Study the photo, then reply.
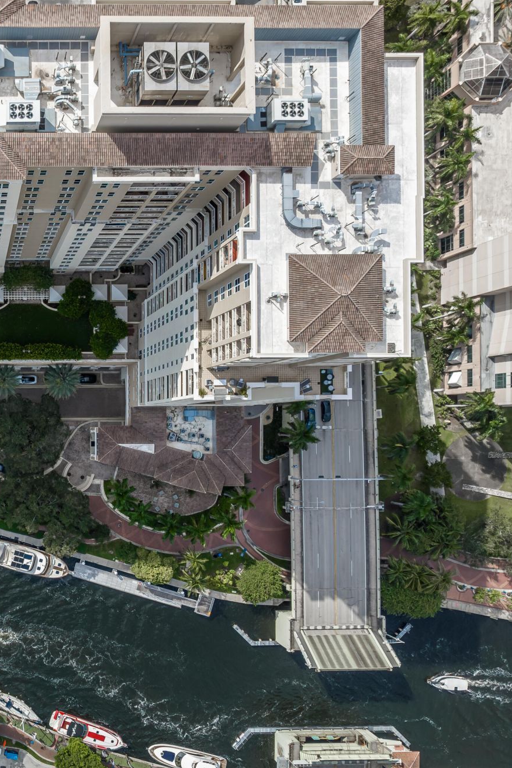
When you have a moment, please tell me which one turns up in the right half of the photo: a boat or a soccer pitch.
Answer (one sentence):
You can see a boat in the right half of the photo.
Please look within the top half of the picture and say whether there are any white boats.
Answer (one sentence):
No, no white boat appears within the top half of the picture.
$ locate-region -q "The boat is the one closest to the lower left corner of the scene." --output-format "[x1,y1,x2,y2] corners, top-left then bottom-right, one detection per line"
[0,692,42,735]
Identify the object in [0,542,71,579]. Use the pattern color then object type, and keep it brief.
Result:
white boat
